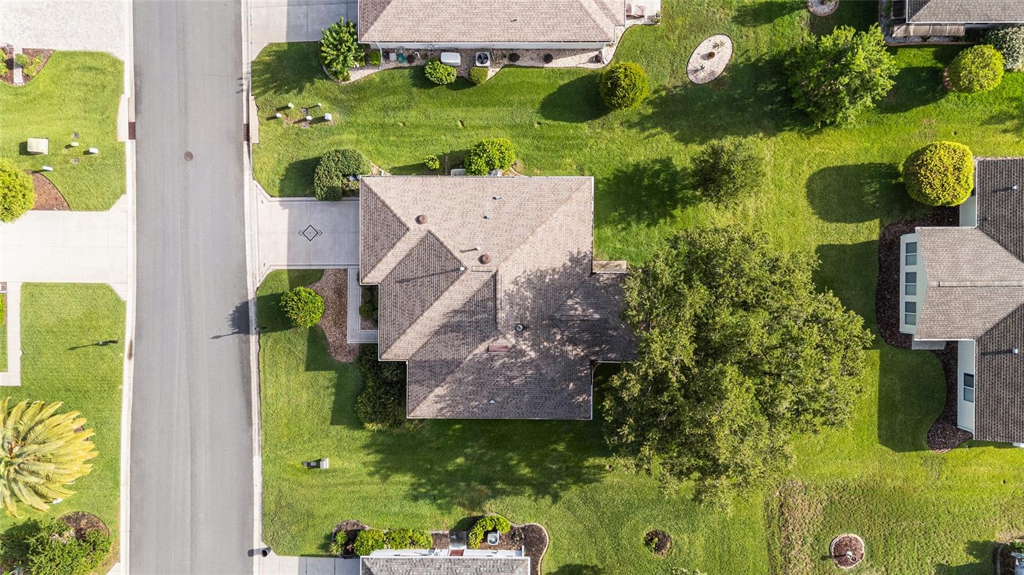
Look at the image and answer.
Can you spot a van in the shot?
No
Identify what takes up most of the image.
grass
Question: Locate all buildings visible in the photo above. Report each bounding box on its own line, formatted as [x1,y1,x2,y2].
[360,174,639,421]
[359,543,530,575]
[877,0,1024,48]
[900,157,1024,444]
[358,0,628,69]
